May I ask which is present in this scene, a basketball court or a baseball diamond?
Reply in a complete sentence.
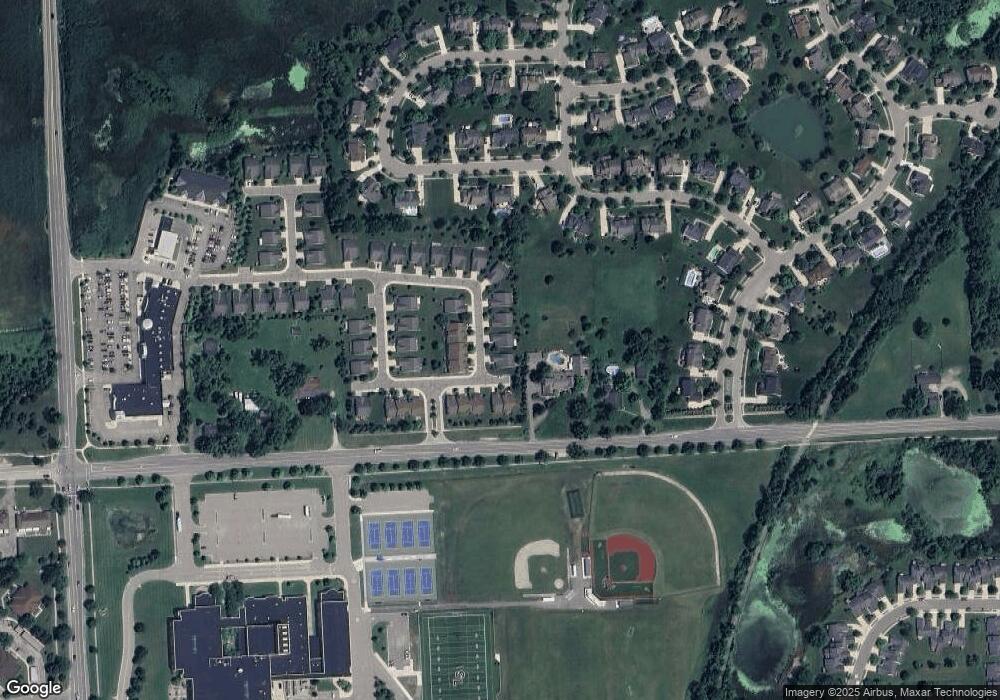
This aerial view contains a baseball diamond.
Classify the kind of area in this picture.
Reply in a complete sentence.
The picture captures a residential area.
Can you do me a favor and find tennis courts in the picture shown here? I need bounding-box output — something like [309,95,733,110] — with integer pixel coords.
[403,567,417,595]
[370,569,384,597]
[384,521,397,549]
[417,519,431,547]
[367,521,381,549]
[420,566,434,594]
[400,520,414,548]
[388,568,400,596]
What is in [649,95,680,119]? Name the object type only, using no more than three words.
house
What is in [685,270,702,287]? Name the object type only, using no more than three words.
swimming pool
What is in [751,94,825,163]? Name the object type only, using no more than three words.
pond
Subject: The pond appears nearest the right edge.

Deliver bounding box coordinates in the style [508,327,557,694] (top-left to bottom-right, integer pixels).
[904,452,975,534]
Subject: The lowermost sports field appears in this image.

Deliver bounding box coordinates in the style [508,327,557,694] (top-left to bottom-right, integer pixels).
[420,608,498,700]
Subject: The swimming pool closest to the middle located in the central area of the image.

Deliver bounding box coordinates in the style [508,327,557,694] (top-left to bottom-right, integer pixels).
[549,351,567,368]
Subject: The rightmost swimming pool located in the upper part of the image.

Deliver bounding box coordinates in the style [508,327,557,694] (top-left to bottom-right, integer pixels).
[872,238,892,259]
